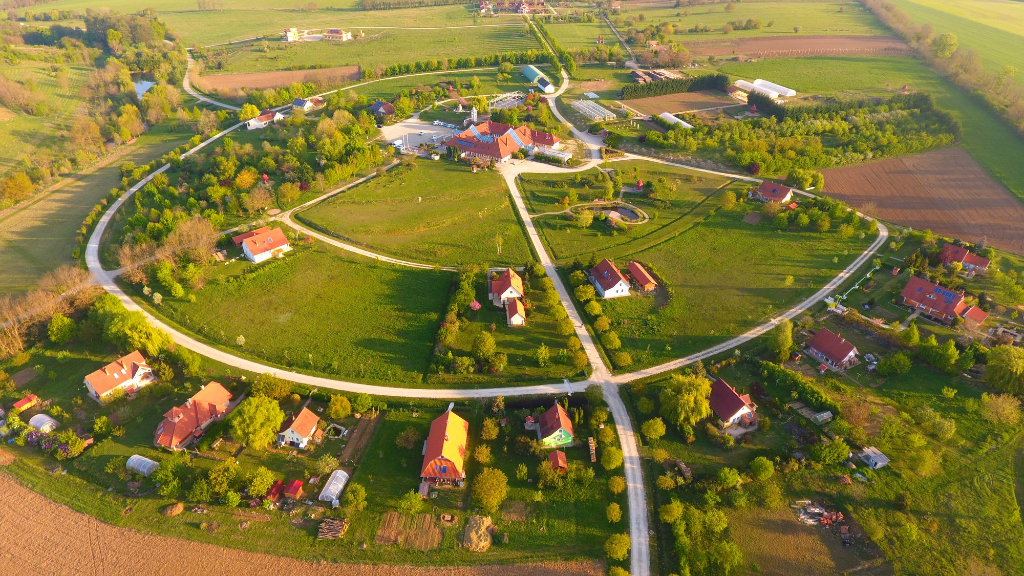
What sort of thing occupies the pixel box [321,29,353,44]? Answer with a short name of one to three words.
building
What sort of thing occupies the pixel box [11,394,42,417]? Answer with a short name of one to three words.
shed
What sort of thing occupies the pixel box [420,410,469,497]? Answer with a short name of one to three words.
house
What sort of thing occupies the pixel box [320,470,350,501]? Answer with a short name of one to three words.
greenhouse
